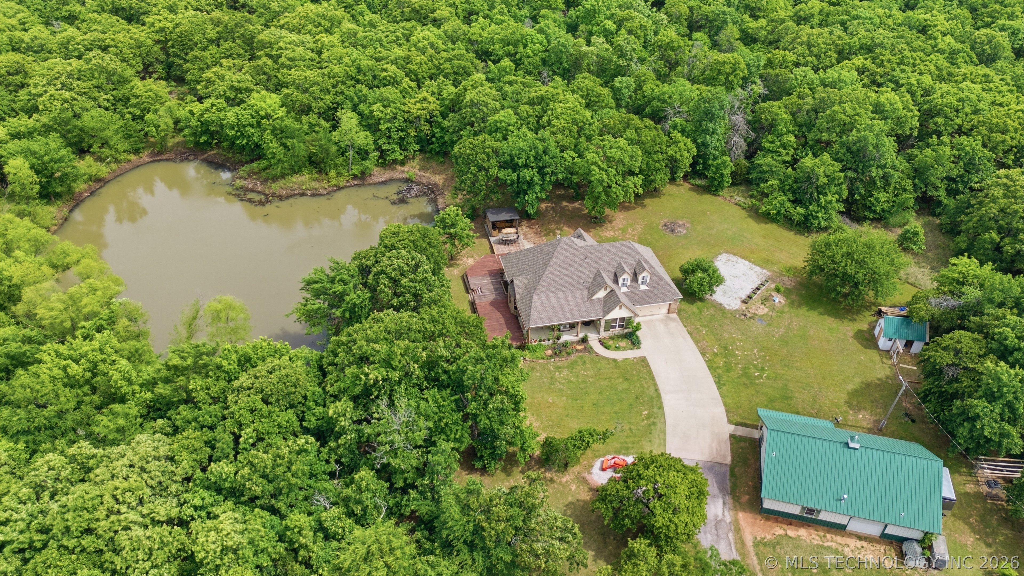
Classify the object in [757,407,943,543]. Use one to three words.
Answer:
building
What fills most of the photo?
trees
